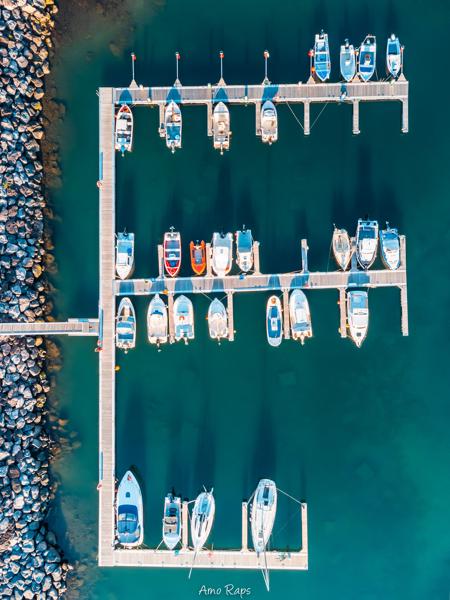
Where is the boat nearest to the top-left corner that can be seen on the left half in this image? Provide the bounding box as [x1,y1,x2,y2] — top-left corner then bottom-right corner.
[114,104,134,163]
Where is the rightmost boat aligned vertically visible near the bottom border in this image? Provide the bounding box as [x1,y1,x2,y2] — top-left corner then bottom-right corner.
[248,474,277,592]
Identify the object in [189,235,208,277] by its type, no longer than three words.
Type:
boat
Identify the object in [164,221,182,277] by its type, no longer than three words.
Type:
boat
